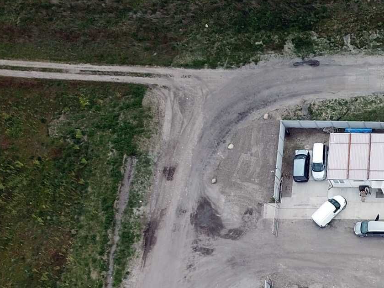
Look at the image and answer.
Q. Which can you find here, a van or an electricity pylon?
van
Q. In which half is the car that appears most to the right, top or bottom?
bottom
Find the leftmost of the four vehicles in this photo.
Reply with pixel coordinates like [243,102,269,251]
[292,148,310,183]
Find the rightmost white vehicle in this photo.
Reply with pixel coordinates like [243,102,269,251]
[354,213,384,238]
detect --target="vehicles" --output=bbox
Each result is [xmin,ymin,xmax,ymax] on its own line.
[292,148,310,183]
[313,193,349,230]
[309,145,329,180]
[354,213,384,238]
